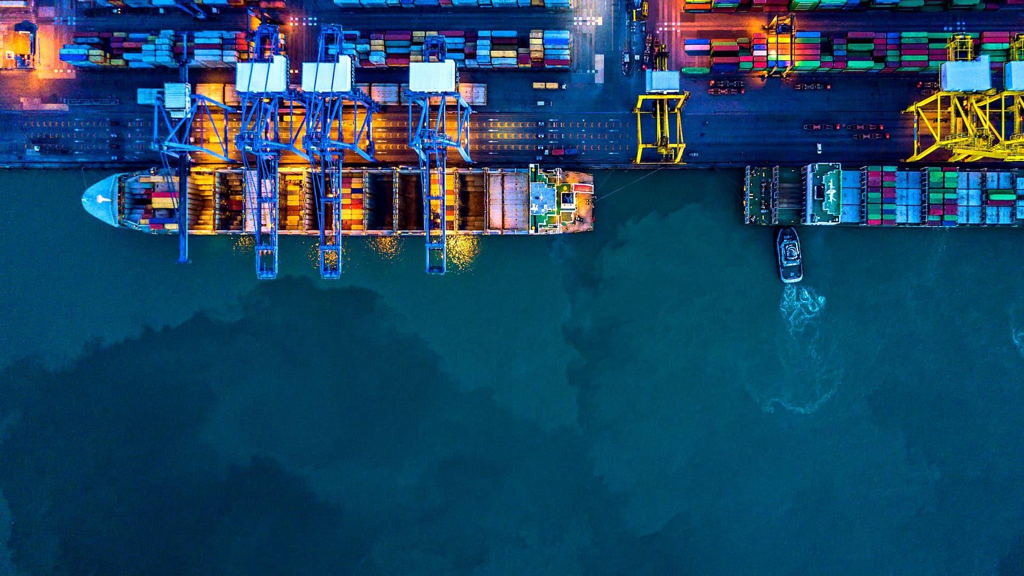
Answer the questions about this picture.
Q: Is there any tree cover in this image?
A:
No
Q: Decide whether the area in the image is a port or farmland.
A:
port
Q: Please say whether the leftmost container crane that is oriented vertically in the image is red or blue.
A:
blue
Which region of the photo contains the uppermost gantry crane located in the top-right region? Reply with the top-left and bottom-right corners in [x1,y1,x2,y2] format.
[758,11,796,77]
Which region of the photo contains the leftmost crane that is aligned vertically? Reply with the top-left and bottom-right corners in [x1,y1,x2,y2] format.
[137,32,242,262]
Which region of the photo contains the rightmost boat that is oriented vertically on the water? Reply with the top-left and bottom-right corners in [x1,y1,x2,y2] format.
[777,226,806,285]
